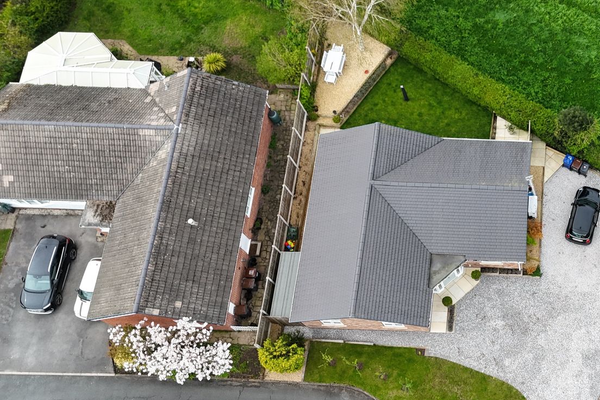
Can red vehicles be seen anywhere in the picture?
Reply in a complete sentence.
No, no red vehicle is visible in the view.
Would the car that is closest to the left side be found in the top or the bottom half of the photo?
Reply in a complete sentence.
The bottom half of the photo is where the car that is closest to the left side is.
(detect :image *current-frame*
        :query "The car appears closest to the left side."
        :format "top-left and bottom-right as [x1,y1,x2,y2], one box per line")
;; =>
[23,236,81,315]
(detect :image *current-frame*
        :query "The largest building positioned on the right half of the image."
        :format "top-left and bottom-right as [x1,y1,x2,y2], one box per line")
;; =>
[289,121,532,334]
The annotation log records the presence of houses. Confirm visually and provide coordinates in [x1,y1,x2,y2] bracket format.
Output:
[0,67,275,332]
[289,121,532,334]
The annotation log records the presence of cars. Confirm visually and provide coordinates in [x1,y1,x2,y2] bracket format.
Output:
[564,187,600,249]
[69,256,101,321]
[23,236,81,315]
